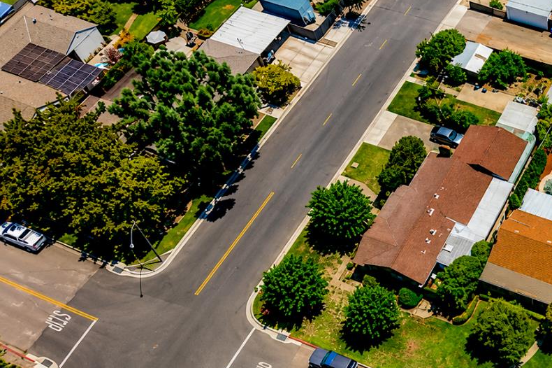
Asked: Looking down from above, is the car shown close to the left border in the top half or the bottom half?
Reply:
bottom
